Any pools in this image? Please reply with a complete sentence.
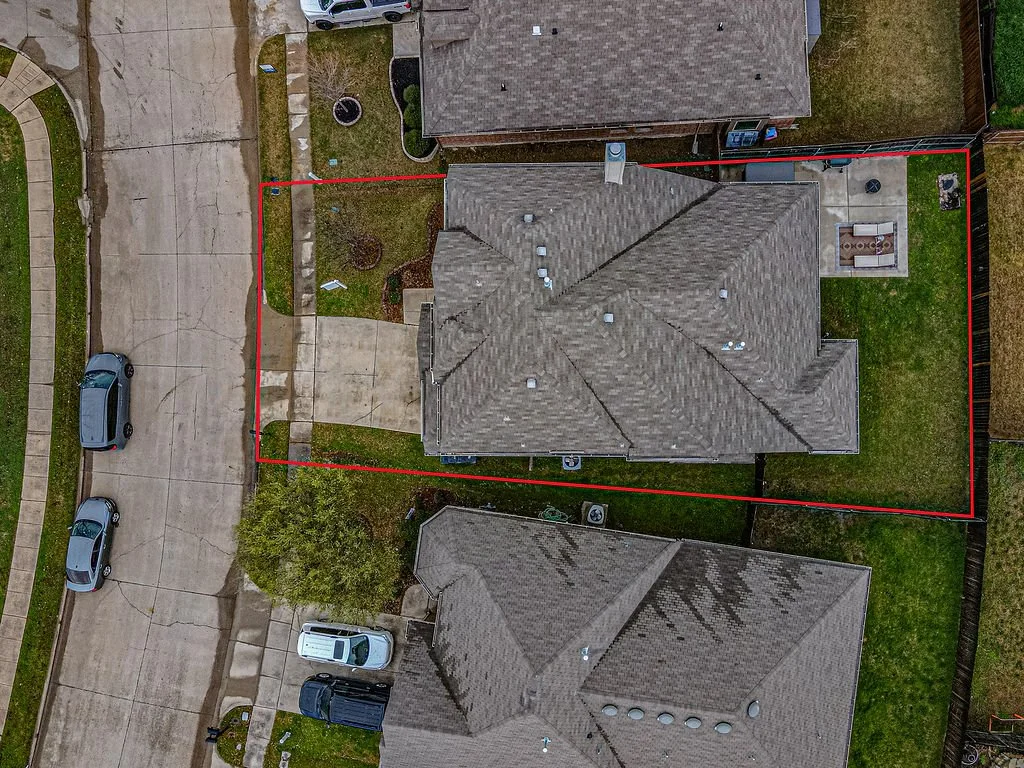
No, there appears to be no pool in this shot.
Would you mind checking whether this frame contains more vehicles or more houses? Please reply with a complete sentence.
Here, vehicles are more common than houses.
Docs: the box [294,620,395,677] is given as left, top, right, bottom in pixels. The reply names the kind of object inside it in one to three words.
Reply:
car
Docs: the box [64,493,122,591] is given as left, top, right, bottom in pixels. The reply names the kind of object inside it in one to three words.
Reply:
car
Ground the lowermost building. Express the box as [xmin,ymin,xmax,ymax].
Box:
[381,505,873,768]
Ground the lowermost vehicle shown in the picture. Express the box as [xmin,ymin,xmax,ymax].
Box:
[296,670,392,737]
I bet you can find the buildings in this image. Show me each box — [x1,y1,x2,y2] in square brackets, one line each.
[417,141,861,464]
[420,0,812,148]
[381,505,873,768]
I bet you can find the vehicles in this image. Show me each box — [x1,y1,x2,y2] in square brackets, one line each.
[64,493,122,591]
[296,670,392,737]
[81,351,136,450]
[294,620,395,677]
[297,0,419,27]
